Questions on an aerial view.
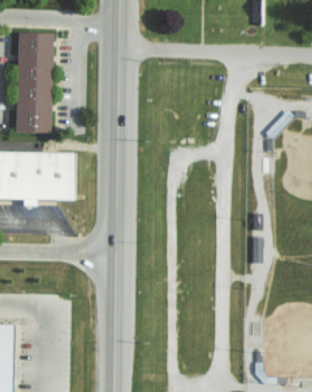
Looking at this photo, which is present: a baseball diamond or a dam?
baseball diamond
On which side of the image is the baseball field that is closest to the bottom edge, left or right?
right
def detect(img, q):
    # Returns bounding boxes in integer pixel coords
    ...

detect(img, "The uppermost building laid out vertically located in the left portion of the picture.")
[16,33,54,133]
